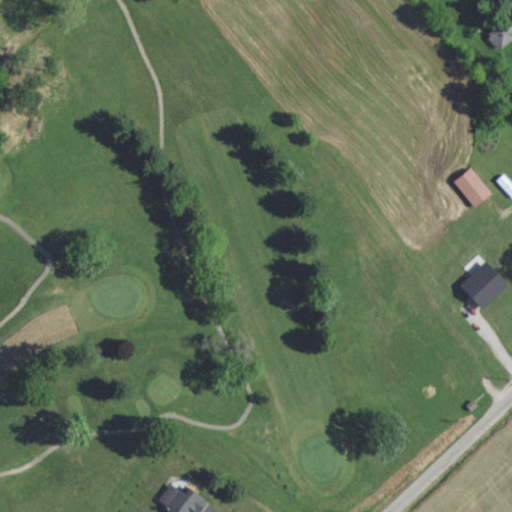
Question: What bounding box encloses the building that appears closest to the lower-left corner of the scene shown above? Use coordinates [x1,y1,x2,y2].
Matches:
[159,474,208,512]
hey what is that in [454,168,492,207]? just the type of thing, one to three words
barn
